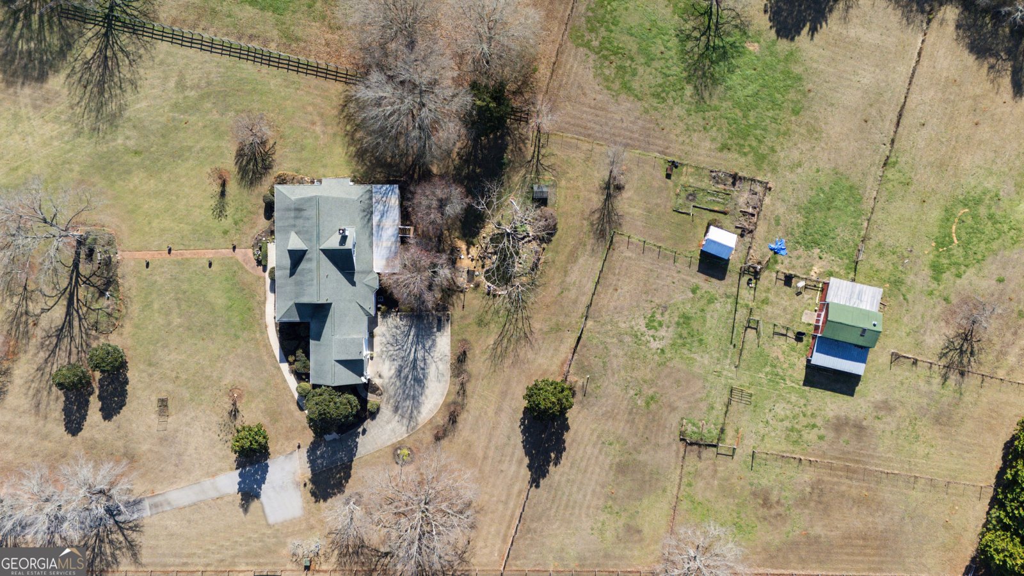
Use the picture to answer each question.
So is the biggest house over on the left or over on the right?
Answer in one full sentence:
The biggest house sits on the left side.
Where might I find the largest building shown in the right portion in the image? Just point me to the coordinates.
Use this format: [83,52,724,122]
[805,277,883,374]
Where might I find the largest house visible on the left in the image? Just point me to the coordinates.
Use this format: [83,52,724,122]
[275,179,400,387]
